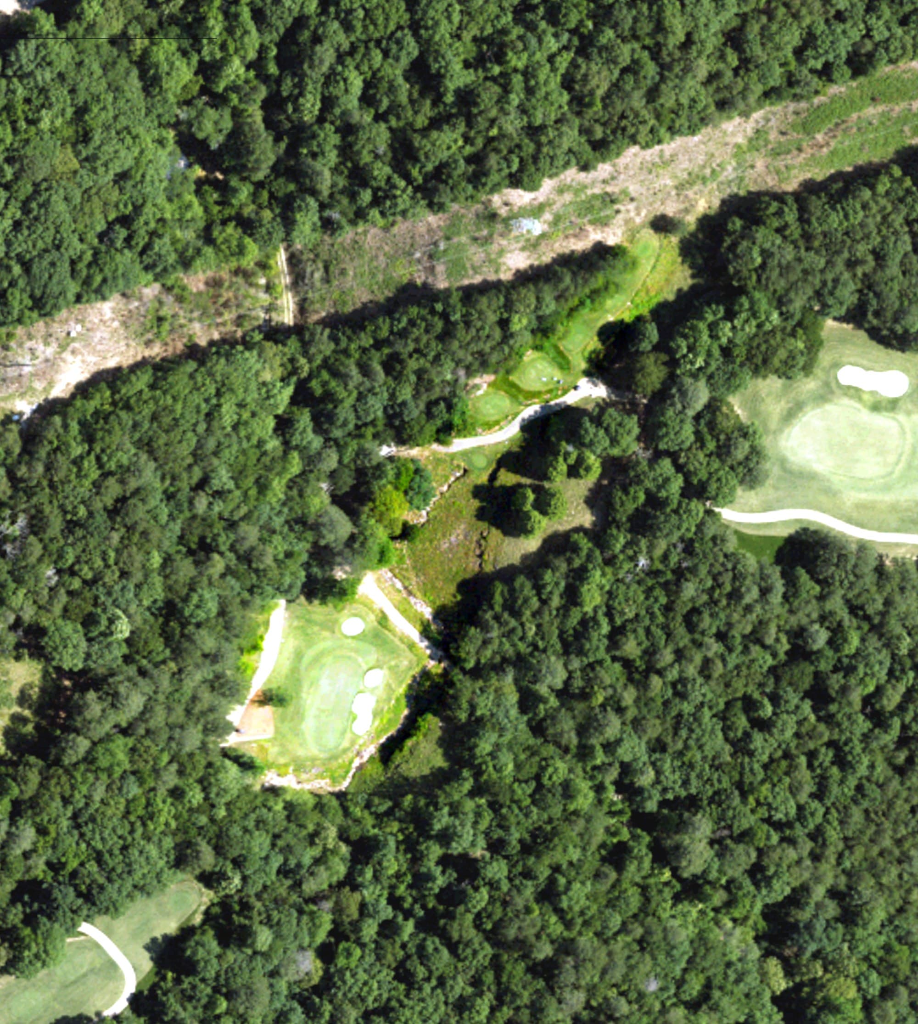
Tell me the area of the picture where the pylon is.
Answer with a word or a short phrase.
top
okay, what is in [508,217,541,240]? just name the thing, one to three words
pylon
